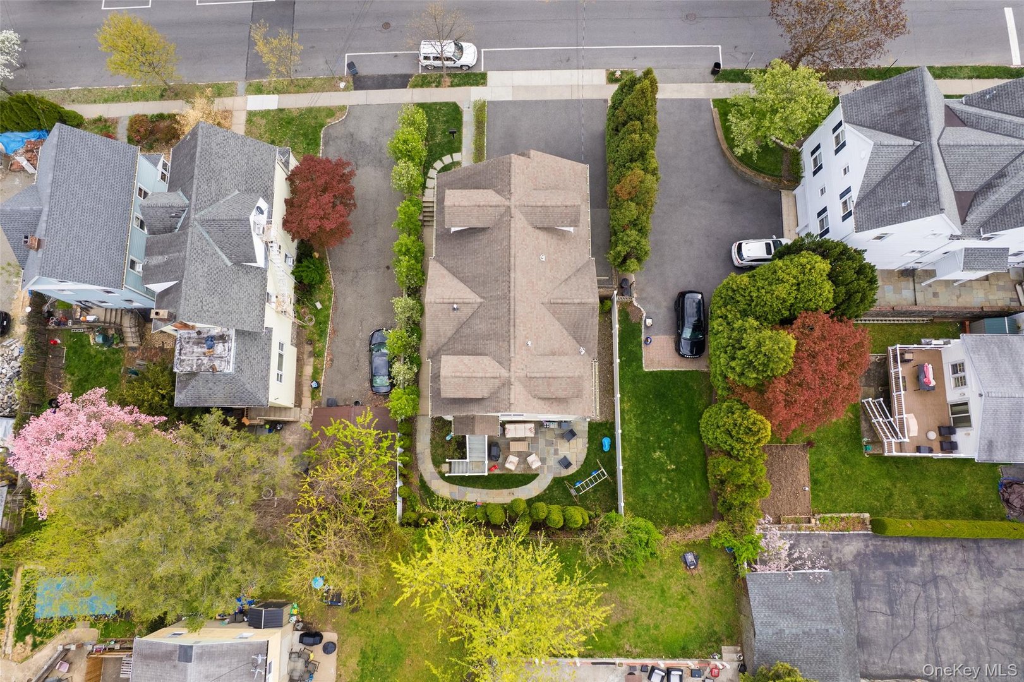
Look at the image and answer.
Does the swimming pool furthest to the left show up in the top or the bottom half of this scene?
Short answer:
bottom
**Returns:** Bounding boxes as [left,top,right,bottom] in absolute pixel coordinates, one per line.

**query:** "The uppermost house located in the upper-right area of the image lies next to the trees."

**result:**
[794,66,1024,287]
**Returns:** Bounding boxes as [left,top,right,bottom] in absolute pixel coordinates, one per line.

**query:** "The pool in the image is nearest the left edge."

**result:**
[34,575,117,620]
